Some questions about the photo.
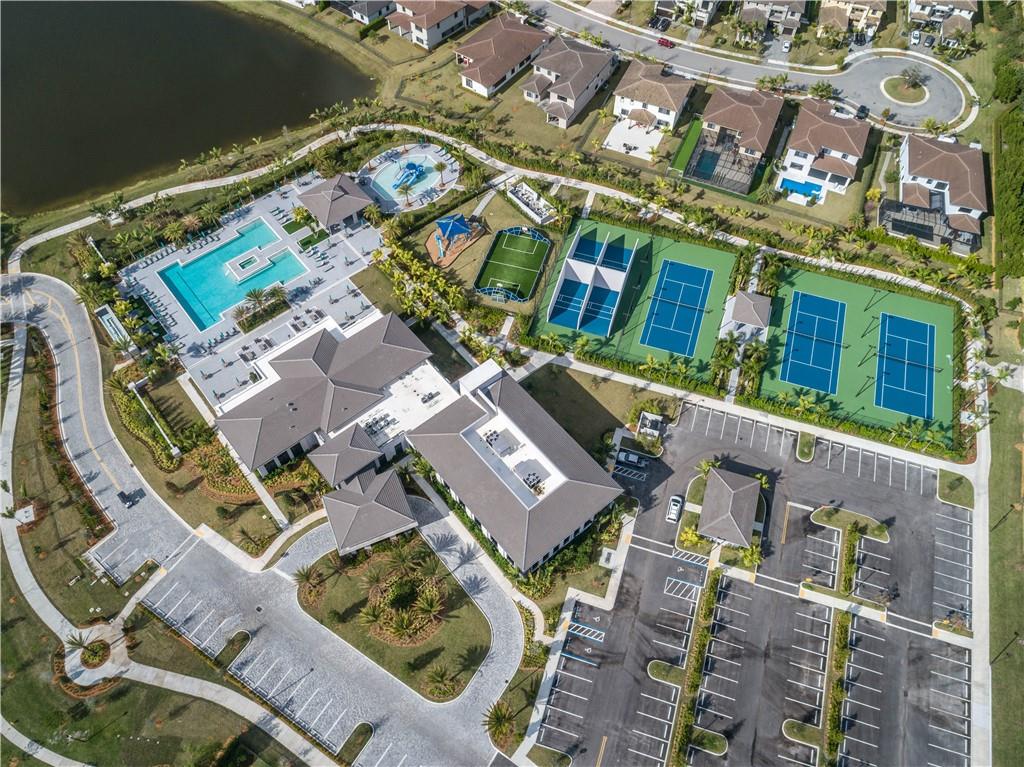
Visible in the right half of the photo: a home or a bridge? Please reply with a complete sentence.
Visible in the right half of the photo is a home.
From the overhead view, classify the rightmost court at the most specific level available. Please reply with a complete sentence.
The rightmost court in the image is a tennis court.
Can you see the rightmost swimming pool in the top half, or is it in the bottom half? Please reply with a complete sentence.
The rightmost swimming pool sits in the top half of the picture.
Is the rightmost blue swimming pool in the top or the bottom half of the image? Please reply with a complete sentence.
Seen from above, the rightmost blue swimming pool lies in the top half of the view.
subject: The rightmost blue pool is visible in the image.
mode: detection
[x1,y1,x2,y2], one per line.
[780,177,823,199]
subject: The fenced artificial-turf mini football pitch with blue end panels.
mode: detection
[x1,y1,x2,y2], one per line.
[473,220,552,304]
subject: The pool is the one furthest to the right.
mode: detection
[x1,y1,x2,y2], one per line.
[890,217,935,239]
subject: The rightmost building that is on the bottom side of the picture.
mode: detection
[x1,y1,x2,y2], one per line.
[698,467,760,547]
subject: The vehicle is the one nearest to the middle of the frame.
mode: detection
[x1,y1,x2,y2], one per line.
[617,450,648,467]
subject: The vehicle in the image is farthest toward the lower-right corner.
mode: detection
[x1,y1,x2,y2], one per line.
[667,496,683,522]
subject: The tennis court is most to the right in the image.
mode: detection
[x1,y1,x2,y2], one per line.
[856,285,954,443]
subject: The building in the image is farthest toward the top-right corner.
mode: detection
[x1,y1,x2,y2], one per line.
[901,0,977,46]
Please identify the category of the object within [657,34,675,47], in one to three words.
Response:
vehicle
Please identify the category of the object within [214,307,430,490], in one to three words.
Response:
building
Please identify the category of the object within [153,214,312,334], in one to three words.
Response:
swimming pool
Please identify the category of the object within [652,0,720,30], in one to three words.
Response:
house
